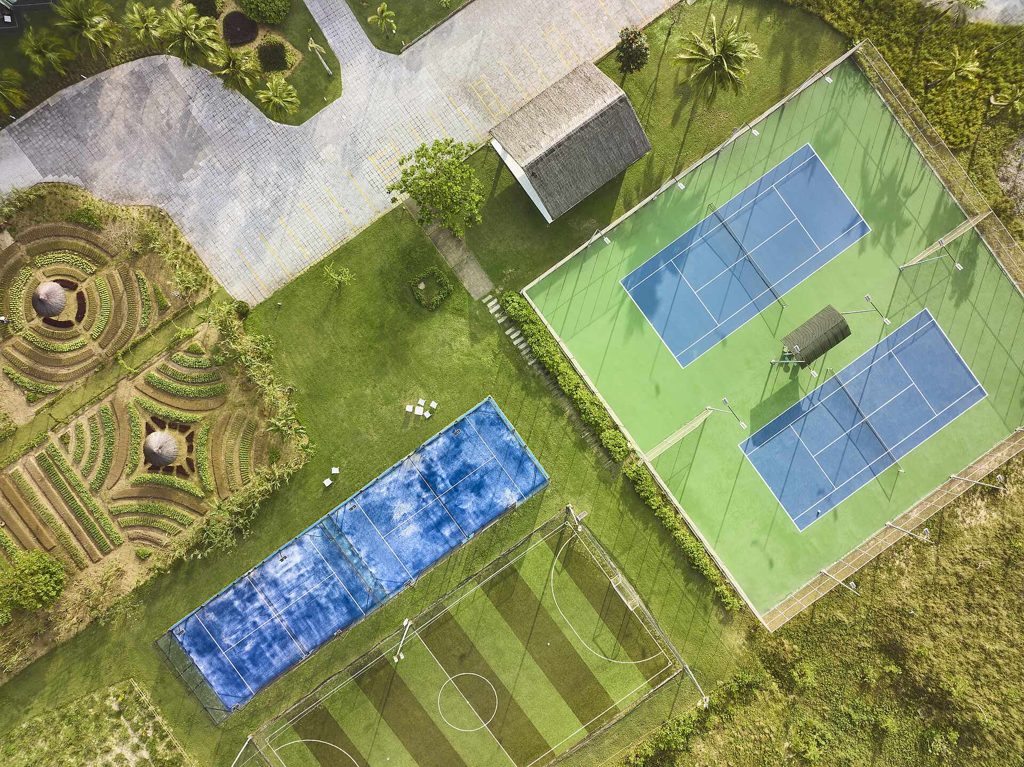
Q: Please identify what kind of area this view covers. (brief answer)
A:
sports ground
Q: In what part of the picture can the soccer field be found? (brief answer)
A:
bottom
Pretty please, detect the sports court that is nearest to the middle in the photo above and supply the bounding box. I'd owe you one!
[324,396,551,603]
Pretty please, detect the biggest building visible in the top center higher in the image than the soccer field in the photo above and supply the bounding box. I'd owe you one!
[491,60,651,222]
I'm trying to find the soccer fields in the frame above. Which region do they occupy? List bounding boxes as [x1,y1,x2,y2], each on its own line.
[251,505,684,767]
